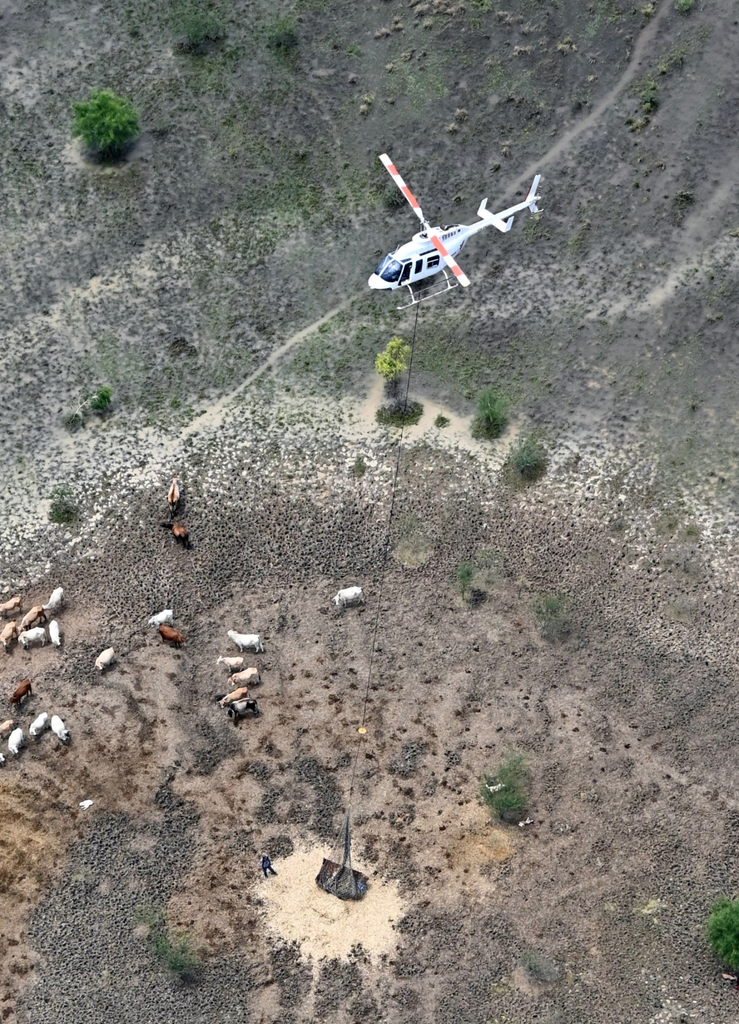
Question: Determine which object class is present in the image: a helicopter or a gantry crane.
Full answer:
It is a helicopter that can be seen here.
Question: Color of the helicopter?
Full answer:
In this view, the helicopter is white.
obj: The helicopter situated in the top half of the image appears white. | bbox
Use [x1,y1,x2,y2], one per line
[366,154,543,309]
